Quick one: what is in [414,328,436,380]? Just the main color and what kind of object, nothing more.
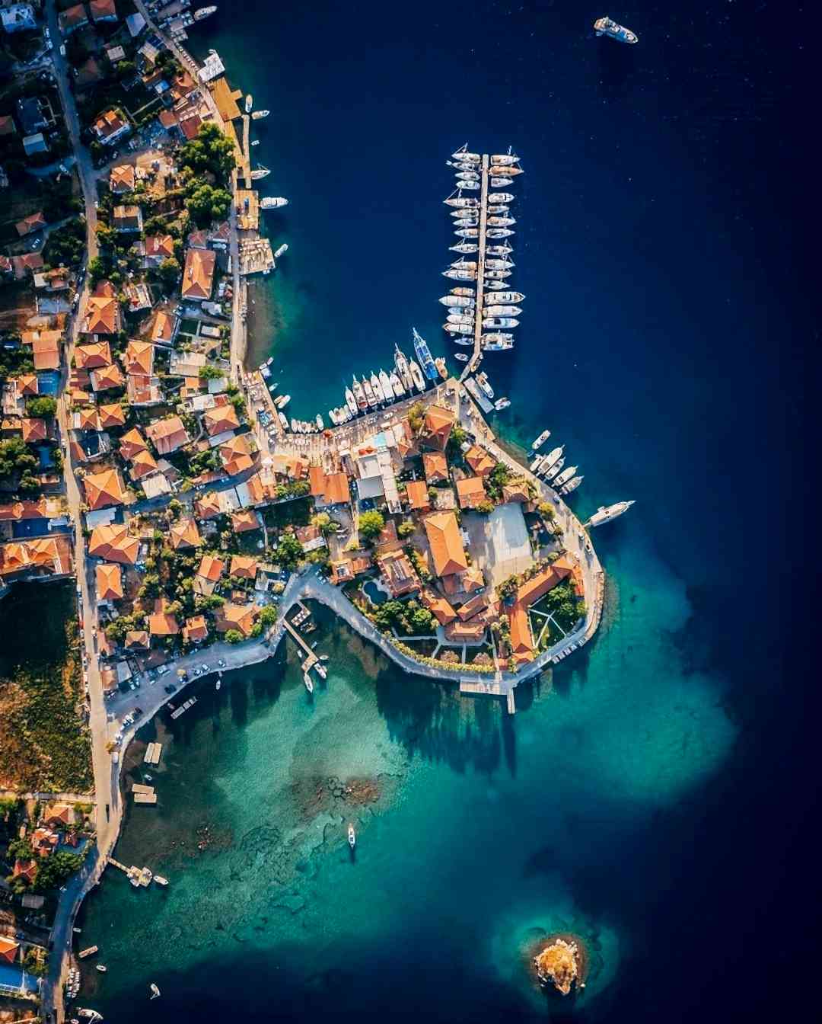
blue boat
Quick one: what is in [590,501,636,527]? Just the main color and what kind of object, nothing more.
white boat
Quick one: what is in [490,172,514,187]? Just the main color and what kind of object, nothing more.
white boat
